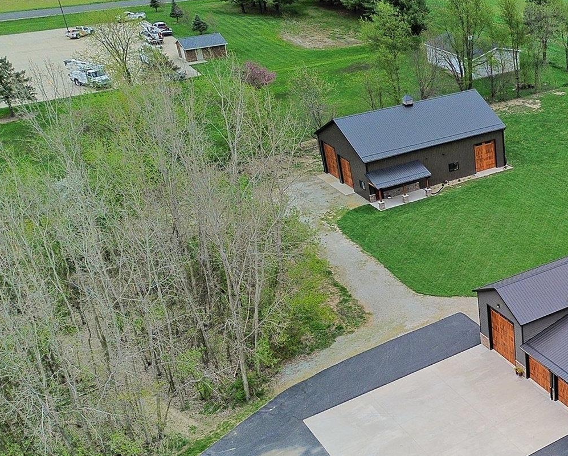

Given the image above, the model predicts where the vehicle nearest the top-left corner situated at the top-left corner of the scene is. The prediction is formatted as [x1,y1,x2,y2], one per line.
[62,26,98,39]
